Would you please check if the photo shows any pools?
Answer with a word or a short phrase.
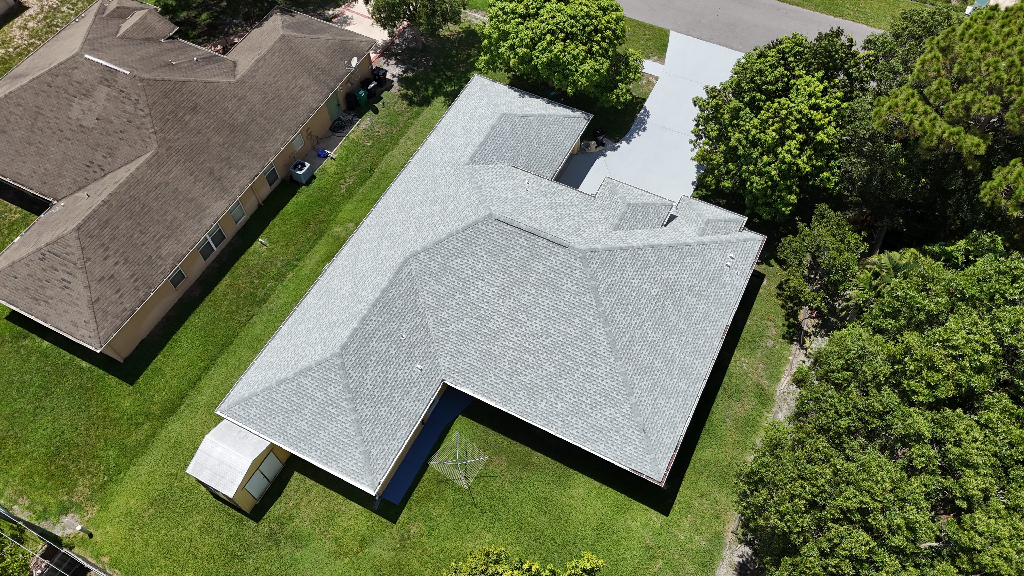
No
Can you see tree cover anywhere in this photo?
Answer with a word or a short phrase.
Yes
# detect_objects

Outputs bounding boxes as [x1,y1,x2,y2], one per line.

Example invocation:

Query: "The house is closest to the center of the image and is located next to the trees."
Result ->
[215,74,766,507]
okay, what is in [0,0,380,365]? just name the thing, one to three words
house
